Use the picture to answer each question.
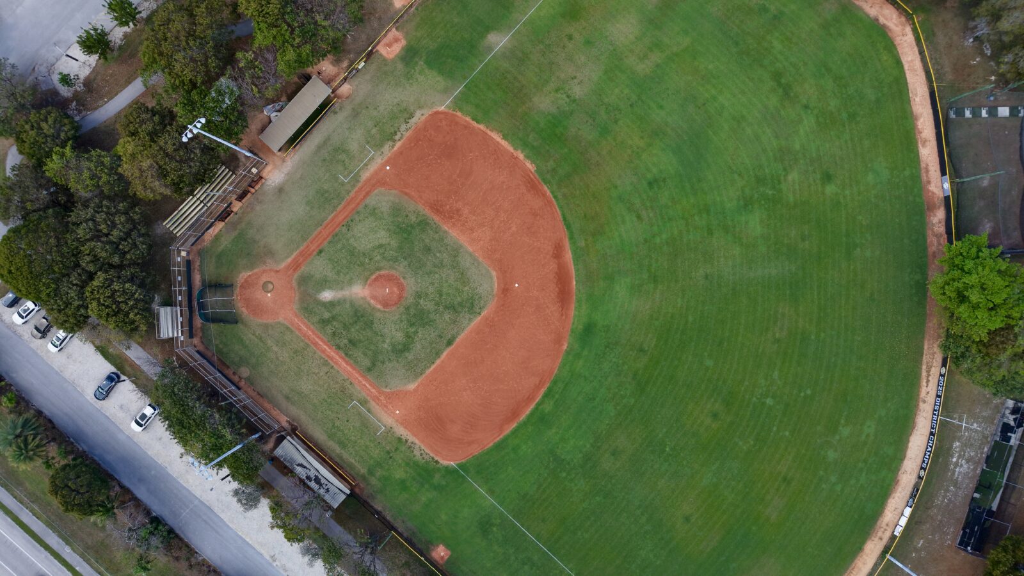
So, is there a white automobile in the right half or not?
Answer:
No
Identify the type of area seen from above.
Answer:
sports ground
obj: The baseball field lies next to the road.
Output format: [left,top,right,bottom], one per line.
[189,0,947,576]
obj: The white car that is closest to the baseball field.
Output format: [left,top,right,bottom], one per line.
[132,404,159,433]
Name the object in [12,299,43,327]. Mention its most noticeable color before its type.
white car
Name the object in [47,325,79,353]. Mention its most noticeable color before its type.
white car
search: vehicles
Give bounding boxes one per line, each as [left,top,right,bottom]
[0,283,29,309]
[31,315,55,338]
[47,325,79,353]
[94,371,122,402]
[12,299,43,327]
[132,404,159,433]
